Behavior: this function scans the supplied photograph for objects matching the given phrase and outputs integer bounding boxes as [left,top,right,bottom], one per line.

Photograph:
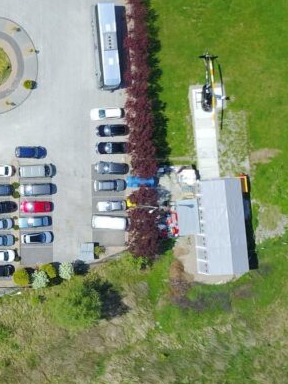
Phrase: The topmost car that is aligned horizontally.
[90,107,123,121]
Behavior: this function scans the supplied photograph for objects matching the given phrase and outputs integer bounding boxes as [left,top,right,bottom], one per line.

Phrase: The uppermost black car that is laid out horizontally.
[97,125,126,137]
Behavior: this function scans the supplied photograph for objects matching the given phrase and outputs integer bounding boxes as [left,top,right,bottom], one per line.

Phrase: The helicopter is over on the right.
[196,51,217,129]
